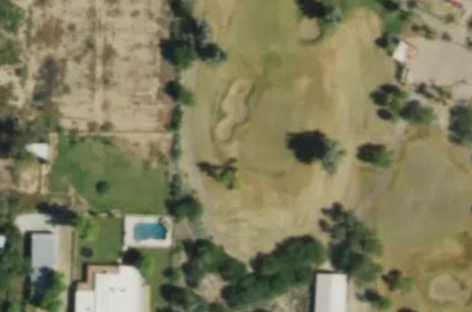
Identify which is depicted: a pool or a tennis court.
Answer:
pool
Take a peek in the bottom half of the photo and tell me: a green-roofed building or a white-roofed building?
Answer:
white-roofed building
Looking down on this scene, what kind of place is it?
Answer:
golf course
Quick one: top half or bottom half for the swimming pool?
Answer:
bottom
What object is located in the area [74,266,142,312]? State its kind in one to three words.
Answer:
house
